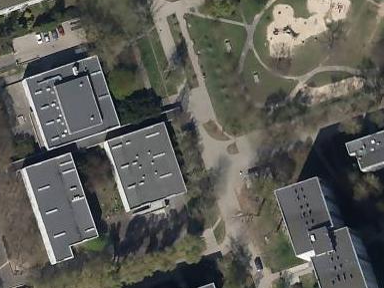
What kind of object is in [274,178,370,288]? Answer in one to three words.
building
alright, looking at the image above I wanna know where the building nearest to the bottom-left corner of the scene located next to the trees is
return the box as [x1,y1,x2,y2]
[21,153,98,266]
